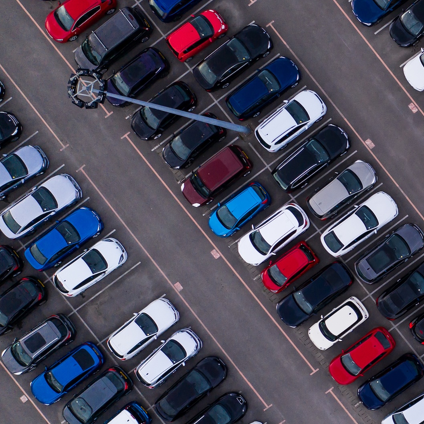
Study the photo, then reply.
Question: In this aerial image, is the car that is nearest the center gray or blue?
blue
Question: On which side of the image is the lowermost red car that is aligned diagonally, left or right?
right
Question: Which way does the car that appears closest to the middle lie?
on a diagonal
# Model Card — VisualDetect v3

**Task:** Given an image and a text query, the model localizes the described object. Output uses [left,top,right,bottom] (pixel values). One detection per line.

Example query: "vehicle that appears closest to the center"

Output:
[206,179,275,238]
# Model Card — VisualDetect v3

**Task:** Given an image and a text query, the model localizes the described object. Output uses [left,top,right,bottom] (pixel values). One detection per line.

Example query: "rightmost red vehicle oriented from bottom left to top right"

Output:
[327,326,397,386]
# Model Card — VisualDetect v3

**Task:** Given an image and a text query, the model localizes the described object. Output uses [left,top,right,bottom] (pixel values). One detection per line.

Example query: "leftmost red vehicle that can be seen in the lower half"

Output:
[260,239,320,292]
